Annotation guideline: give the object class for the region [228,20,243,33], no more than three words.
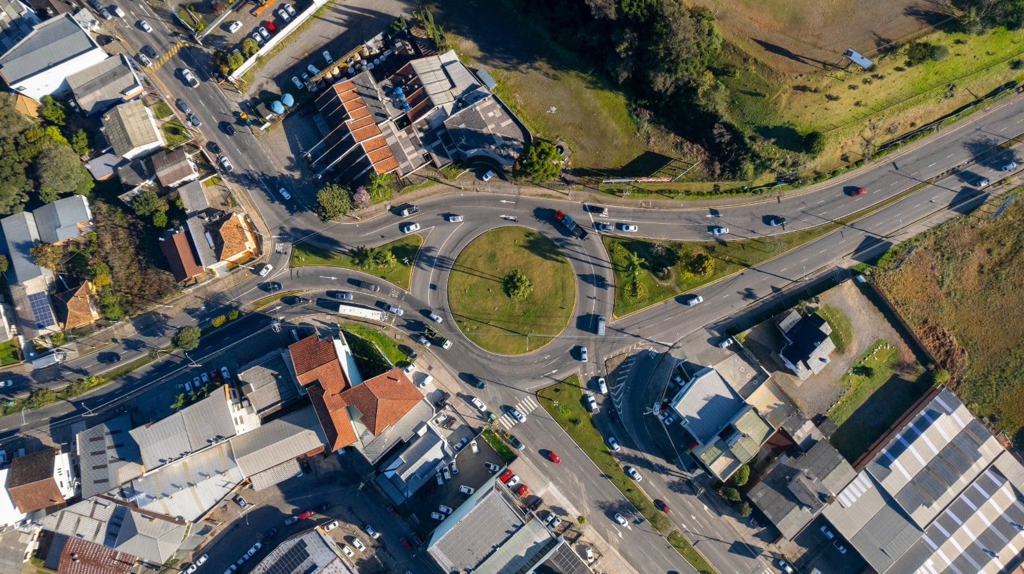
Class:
vehicle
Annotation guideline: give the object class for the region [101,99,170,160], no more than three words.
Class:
house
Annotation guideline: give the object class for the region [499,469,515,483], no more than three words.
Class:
vehicle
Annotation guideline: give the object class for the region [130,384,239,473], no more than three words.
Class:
building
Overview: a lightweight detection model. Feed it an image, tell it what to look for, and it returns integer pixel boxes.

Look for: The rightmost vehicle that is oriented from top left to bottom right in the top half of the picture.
[553,209,587,239]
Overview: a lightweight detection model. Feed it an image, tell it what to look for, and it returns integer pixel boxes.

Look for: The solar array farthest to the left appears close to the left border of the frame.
[27,291,55,329]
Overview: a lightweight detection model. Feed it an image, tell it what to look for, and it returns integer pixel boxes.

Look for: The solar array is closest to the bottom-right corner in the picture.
[555,546,580,574]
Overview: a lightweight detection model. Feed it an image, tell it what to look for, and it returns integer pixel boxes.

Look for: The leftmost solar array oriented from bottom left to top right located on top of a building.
[265,539,310,574]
